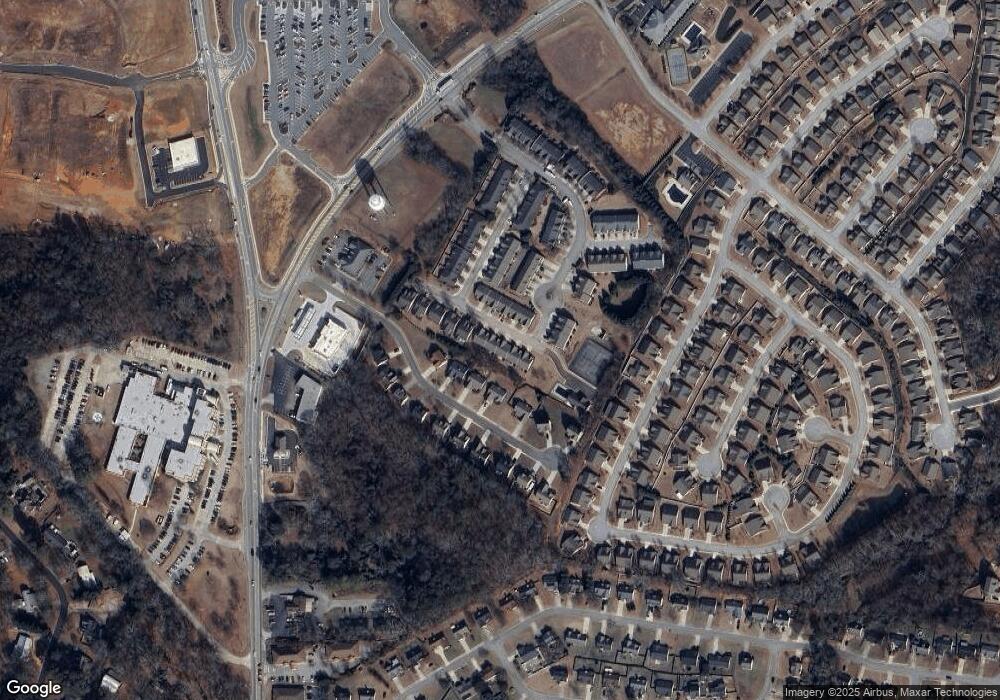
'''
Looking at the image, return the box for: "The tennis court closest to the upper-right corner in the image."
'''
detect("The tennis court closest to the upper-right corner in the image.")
[665,48,689,85]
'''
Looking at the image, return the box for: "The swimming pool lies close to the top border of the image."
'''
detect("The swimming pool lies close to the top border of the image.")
[681,21,705,45]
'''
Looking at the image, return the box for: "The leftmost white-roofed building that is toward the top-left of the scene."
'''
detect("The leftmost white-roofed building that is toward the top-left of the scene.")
[170,138,200,173]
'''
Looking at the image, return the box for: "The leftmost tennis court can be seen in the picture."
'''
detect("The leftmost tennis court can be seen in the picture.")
[568,339,613,384]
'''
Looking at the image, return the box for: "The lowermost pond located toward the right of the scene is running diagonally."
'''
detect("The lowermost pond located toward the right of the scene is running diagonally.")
[838,485,909,546]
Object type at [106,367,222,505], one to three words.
building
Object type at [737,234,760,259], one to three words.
house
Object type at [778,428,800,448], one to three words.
house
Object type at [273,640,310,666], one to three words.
building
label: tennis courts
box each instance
[665,48,689,85]
[568,339,613,384]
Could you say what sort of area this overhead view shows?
residential area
